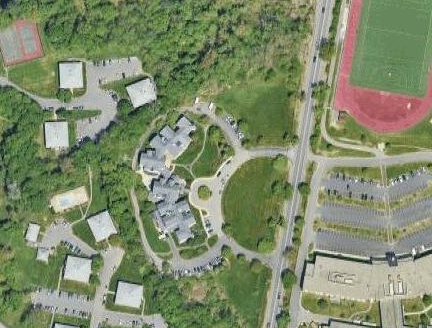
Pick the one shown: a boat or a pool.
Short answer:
pool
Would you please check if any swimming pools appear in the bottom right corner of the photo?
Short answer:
No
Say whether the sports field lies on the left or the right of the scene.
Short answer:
right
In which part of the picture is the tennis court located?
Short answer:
top left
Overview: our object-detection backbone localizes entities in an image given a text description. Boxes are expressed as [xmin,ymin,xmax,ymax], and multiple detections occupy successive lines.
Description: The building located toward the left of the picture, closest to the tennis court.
[58,62,83,88]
